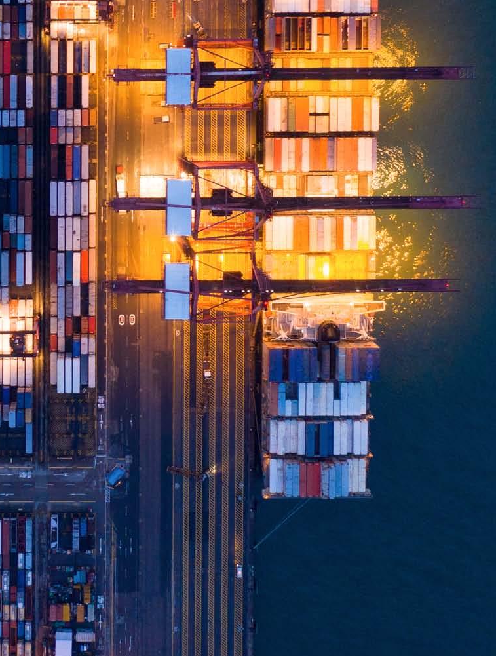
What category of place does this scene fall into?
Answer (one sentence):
This looks like a port.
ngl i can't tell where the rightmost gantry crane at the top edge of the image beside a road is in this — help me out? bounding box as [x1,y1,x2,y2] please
[108,28,476,118]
